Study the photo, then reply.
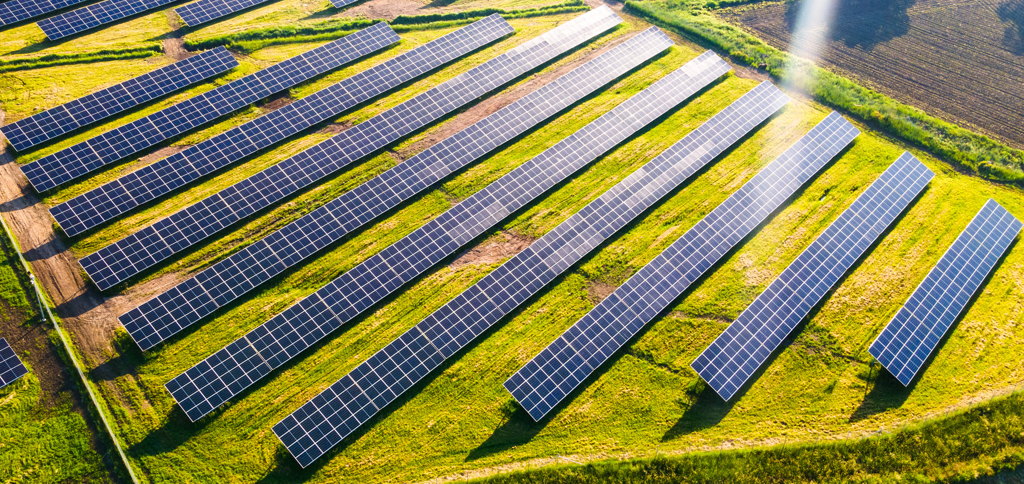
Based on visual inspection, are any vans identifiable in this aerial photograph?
No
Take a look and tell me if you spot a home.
No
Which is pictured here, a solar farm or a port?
solar farm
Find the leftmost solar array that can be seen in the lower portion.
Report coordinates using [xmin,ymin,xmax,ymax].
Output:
[0,338,30,396]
